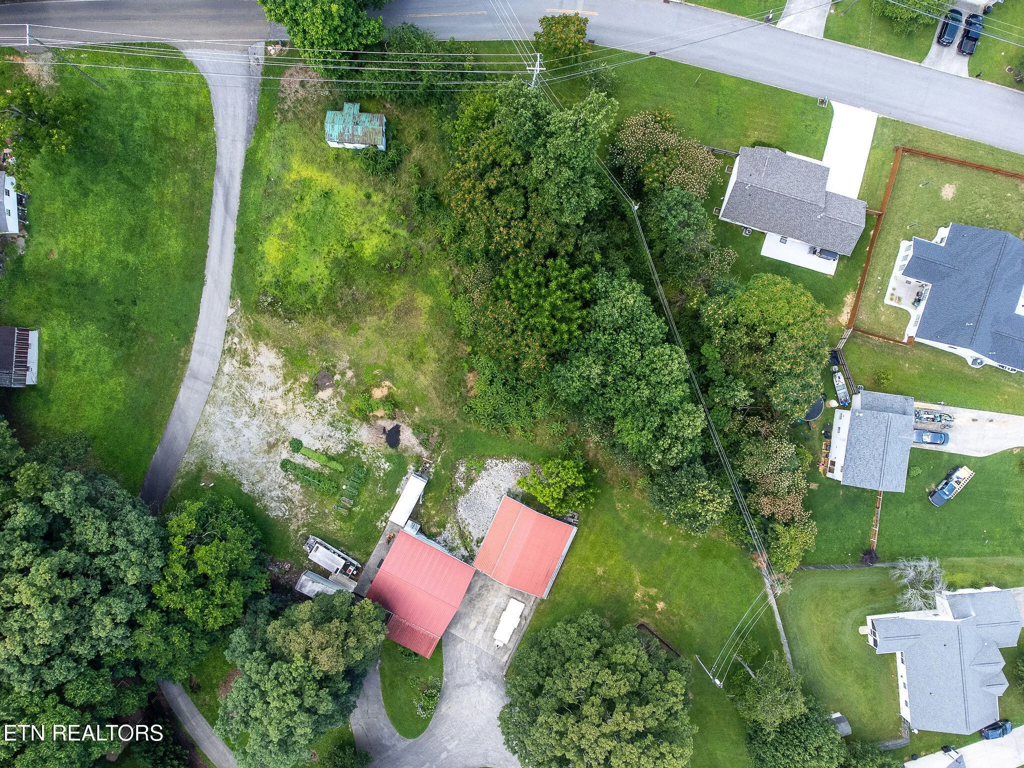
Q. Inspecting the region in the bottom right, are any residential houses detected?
Yes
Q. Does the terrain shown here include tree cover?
Yes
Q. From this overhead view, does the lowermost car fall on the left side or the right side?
right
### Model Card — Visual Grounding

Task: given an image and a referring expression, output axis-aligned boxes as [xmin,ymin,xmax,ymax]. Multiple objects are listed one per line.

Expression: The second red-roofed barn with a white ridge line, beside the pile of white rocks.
[473,494,579,599]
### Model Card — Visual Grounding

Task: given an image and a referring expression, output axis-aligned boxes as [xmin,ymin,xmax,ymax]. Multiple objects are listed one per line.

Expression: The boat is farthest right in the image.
[914,409,954,423]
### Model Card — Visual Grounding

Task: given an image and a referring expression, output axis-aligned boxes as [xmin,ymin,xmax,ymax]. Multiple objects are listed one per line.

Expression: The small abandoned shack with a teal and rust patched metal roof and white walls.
[324,102,386,149]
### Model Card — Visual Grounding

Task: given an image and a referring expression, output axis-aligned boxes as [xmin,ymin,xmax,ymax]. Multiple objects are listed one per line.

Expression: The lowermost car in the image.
[978,718,1013,740]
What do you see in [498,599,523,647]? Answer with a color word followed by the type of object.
white trailer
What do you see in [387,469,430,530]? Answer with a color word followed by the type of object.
white trailer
